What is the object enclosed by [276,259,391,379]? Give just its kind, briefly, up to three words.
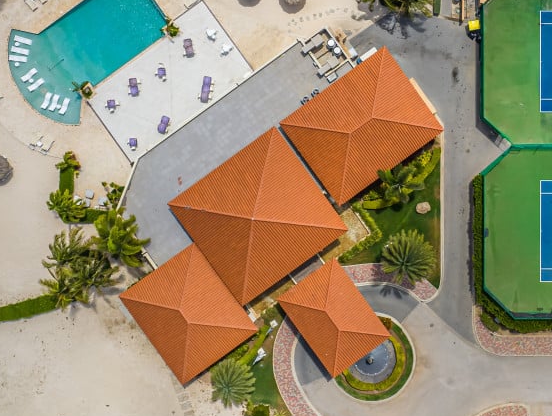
building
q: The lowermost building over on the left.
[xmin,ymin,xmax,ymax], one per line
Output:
[118,243,258,387]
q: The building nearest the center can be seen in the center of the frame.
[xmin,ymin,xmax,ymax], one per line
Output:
[167,127,348,308]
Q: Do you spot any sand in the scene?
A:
Yes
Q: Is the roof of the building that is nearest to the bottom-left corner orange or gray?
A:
orange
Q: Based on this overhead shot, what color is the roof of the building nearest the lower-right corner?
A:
orange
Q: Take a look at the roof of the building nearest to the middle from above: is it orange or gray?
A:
orange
